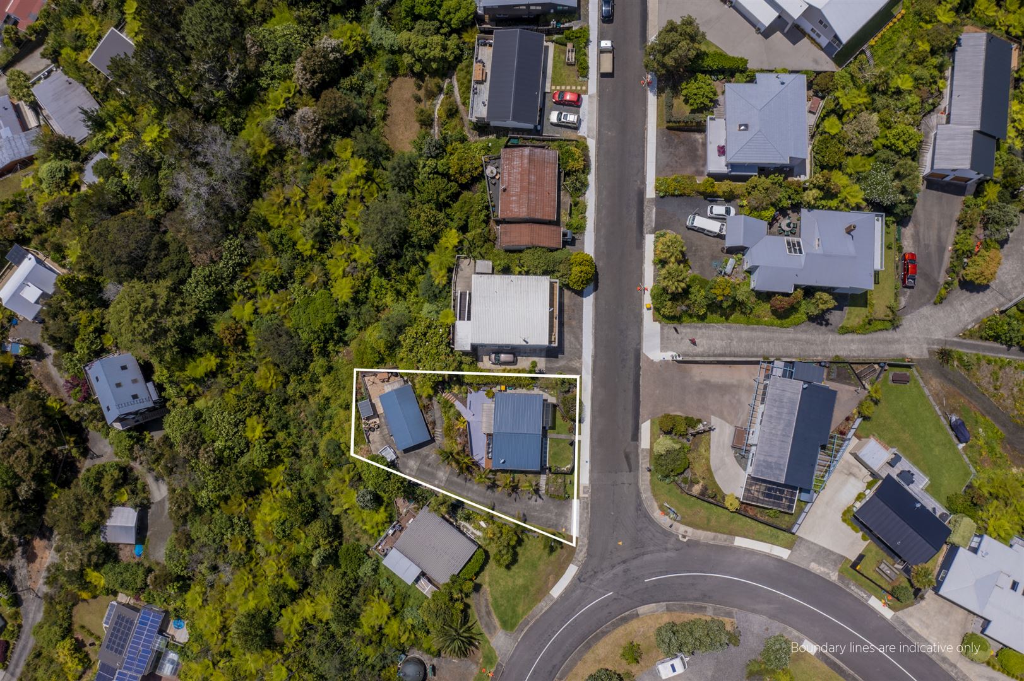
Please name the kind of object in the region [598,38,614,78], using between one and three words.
vehicle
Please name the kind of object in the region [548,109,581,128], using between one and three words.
car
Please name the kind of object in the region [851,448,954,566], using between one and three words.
building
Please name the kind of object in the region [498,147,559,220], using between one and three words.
house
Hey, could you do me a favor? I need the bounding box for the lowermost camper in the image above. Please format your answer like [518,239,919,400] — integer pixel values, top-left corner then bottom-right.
[655,655,689,681]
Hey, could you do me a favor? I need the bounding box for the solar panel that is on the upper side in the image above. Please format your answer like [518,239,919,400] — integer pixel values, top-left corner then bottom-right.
[5,243,30,267]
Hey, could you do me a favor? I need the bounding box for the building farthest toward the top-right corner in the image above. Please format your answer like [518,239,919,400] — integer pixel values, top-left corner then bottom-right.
[935,25,1021,140]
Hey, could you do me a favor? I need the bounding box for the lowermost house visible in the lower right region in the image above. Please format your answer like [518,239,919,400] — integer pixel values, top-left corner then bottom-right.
[931,533,1024,654]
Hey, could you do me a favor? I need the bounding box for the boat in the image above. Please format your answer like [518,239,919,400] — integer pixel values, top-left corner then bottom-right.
[948,408,973,447]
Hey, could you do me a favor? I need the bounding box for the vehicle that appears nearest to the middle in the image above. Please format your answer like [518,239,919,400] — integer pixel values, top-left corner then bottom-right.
[489,351,517,366]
